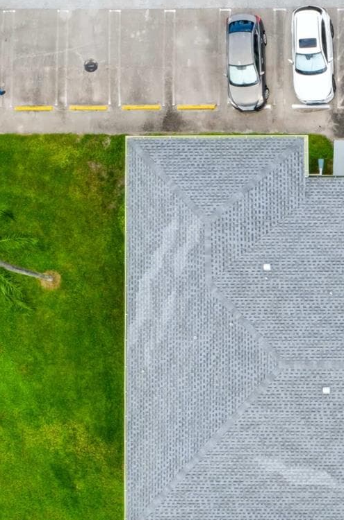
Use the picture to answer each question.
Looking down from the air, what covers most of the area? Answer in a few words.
buildings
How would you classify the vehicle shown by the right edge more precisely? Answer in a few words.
car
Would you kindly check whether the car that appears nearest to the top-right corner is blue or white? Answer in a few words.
white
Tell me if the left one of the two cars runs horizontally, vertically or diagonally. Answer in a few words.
vertically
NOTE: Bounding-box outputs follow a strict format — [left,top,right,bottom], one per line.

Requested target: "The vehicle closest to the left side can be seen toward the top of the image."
[220,13,270,115]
